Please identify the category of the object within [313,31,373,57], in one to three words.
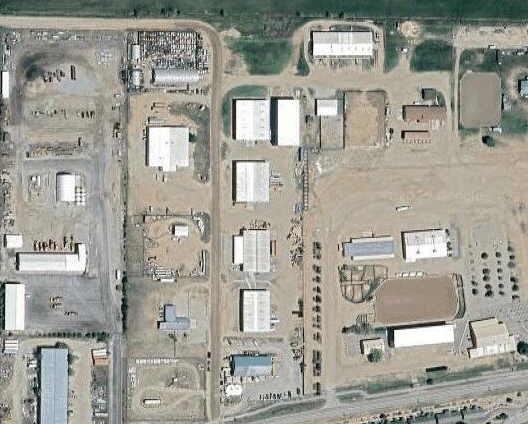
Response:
building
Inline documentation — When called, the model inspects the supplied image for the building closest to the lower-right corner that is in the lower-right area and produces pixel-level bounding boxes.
[471,318,518,360]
